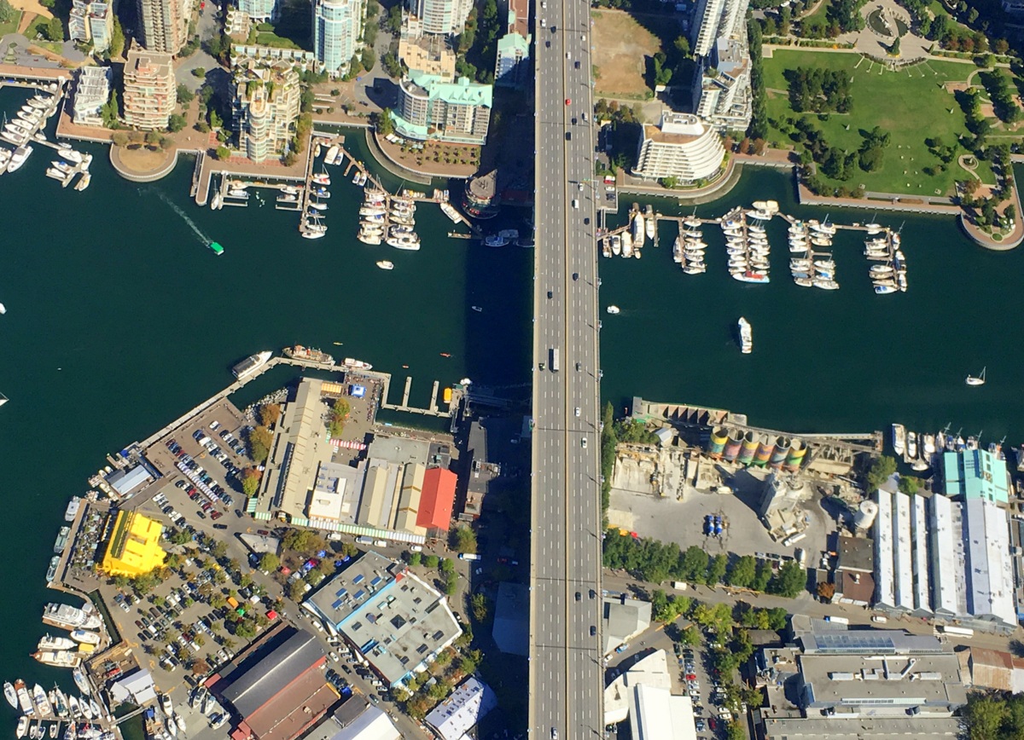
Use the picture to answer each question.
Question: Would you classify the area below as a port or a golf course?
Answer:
port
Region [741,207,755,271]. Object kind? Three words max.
pier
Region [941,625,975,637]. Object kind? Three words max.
vehicle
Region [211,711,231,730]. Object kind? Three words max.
boat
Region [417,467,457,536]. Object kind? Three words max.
building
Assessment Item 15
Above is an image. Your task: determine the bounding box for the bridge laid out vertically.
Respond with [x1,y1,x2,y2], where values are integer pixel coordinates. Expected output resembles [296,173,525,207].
[528,0,604,740]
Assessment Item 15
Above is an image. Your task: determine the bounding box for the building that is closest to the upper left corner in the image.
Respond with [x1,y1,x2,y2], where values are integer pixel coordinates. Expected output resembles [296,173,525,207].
[68,0,112,49]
